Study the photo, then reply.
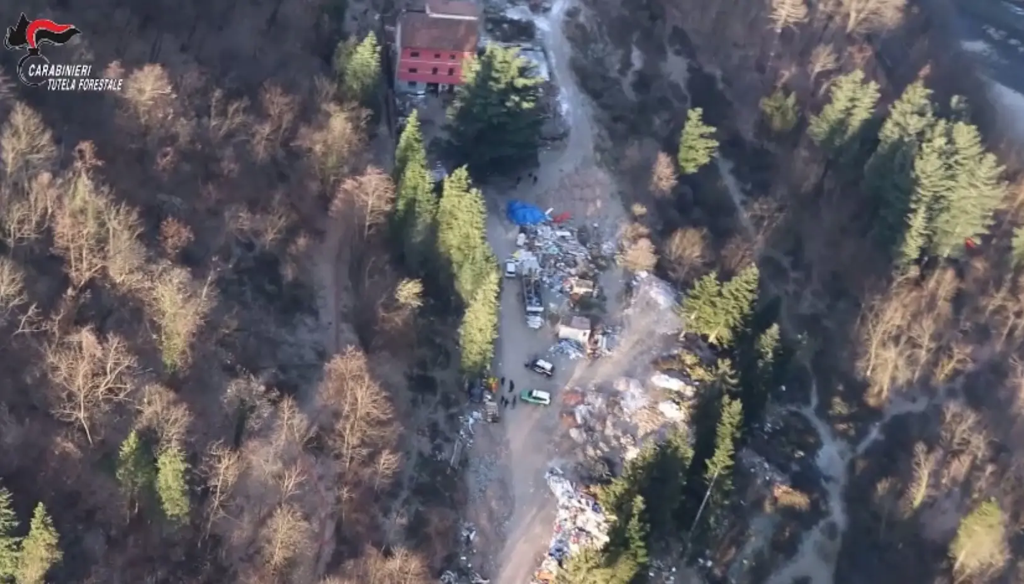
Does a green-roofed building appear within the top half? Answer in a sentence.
No, no green-roofed building can be made out within the top half.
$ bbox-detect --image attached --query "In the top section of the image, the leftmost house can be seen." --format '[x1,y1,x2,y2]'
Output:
[398,0,489,99]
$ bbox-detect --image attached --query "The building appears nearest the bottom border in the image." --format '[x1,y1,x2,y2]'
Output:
[559,310,594,343]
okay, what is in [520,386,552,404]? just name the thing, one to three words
car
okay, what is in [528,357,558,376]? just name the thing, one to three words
car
